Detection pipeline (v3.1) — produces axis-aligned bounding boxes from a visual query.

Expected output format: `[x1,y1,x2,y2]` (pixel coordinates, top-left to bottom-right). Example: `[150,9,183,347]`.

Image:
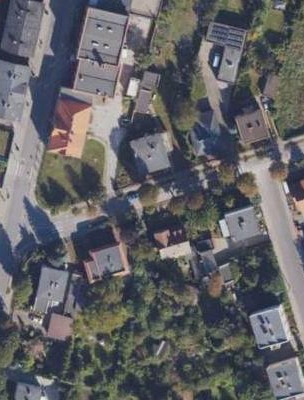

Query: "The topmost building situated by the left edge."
[1,0,46,59]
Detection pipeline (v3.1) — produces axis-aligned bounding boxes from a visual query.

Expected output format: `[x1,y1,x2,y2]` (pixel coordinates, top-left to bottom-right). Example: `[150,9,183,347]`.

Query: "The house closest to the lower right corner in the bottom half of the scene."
[266,357,304,400]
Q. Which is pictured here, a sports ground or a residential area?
residential area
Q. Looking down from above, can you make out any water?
No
